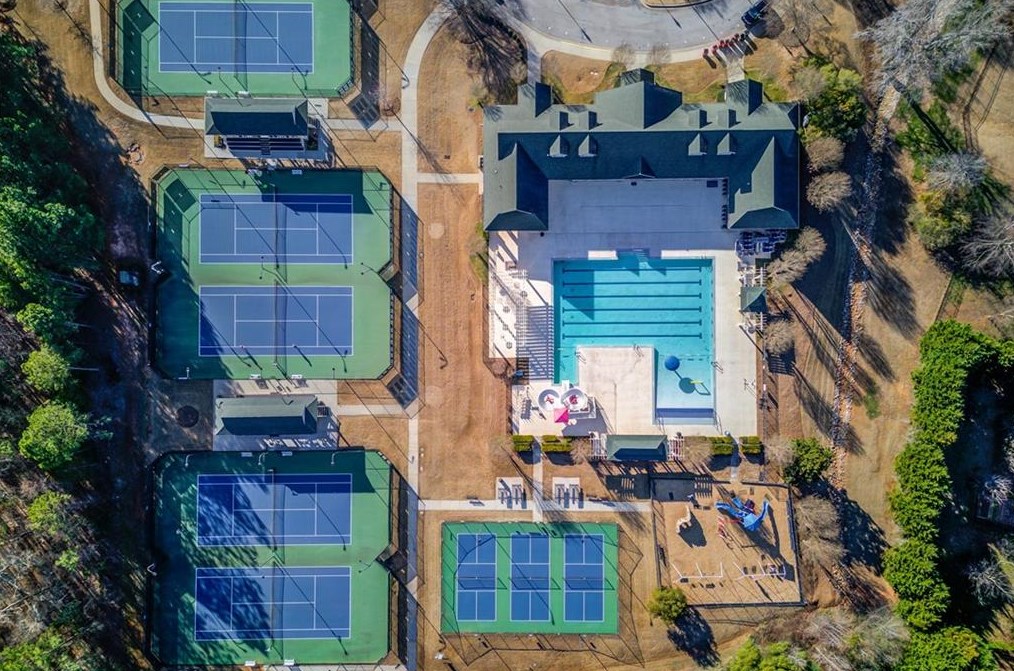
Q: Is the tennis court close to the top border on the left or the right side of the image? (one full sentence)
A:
It is on the left.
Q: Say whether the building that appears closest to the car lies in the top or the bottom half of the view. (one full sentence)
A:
The top half of the photo is where the building that appears closest to the car is.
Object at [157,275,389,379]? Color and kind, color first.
blue tennis court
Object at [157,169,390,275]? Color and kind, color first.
blue tennis court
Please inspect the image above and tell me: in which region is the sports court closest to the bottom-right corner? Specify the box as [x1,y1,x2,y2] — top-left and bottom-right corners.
[558,523,618,633]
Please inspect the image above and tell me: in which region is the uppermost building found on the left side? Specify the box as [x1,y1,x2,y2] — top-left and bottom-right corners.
[204,98,313,141]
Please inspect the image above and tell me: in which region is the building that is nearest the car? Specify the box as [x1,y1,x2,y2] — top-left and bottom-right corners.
[483,69,808,232]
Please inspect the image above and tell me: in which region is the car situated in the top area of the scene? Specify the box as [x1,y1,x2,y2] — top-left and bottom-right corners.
[739,0,769,27]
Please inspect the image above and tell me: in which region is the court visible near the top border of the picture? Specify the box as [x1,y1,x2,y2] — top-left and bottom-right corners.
[119,0,352,96]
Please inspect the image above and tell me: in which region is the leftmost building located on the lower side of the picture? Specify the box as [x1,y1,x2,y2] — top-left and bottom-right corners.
[216,397,322,435]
